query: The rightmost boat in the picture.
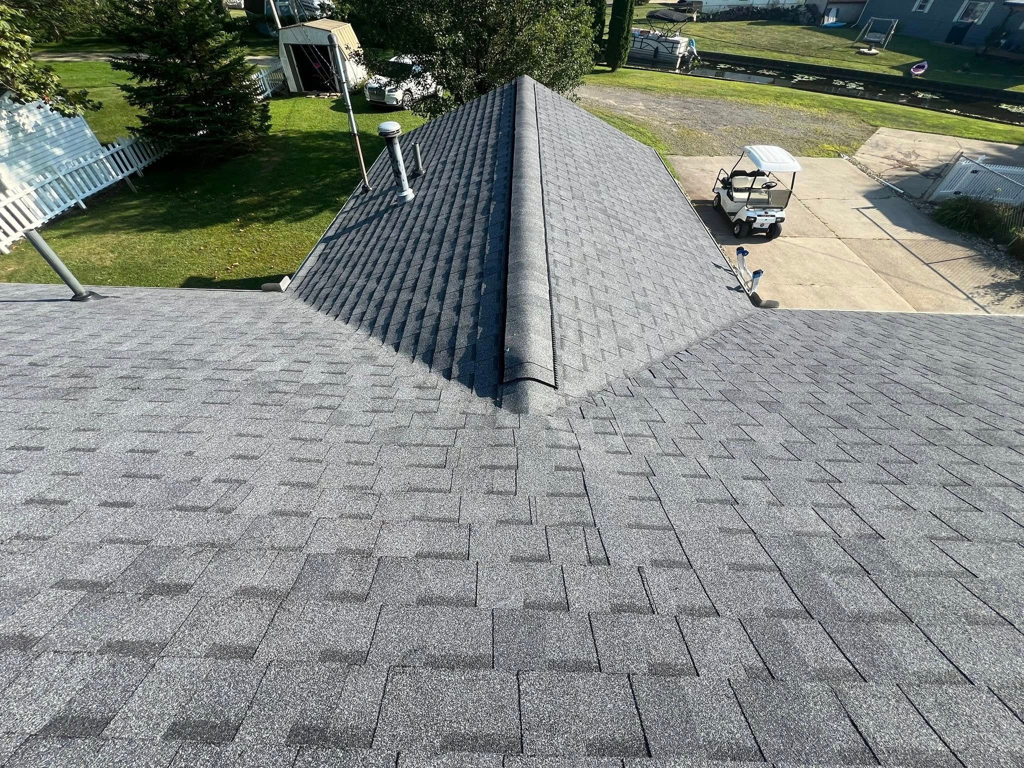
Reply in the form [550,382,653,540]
[906,53,929,76]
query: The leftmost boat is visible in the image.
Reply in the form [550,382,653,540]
[629,10,693,65]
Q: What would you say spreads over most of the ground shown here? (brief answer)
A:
buildings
